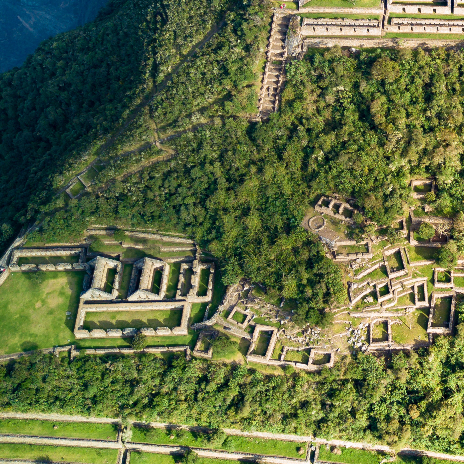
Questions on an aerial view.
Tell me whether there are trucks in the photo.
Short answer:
No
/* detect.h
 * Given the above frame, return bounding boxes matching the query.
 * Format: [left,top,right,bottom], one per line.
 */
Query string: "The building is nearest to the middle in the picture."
[175,265,214,308]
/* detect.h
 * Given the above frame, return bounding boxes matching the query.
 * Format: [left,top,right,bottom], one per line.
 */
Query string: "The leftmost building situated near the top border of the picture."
[301,16,382,36]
